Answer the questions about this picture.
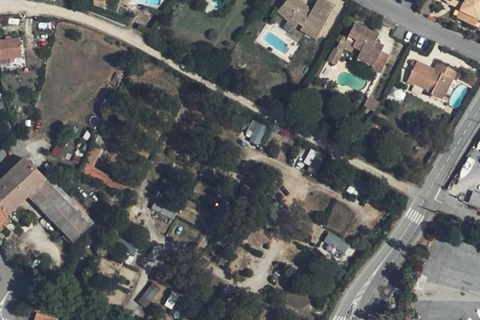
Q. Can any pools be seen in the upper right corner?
Yes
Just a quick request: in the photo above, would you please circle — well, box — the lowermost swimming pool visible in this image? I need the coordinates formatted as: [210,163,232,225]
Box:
[447,84,468,110]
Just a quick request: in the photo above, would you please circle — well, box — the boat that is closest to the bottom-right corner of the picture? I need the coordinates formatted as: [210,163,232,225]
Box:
[460,157,476,178]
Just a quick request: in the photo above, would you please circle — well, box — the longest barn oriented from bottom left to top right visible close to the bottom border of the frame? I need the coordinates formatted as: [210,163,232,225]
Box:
[134,280,160,308]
